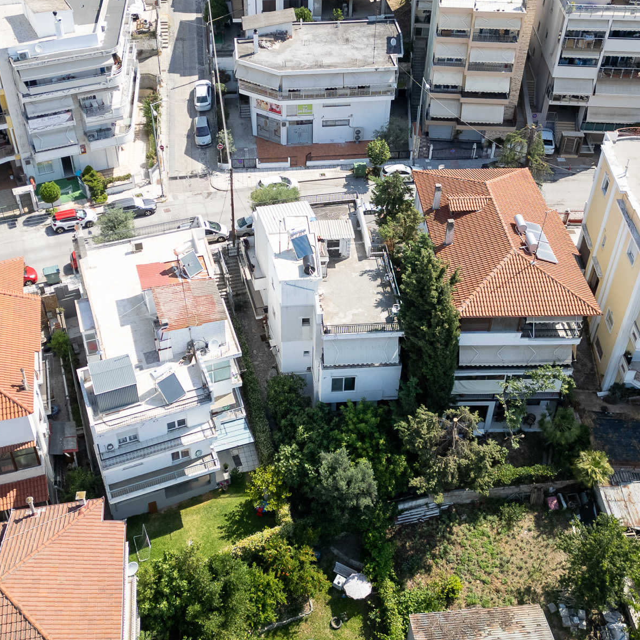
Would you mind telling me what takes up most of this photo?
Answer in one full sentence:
What you mostly see from above here is buildings.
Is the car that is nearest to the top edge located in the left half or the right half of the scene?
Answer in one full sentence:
The car that is nearest to the top edge sits on the left side.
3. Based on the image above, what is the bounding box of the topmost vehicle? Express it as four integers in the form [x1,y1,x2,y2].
[192,86,212,111]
